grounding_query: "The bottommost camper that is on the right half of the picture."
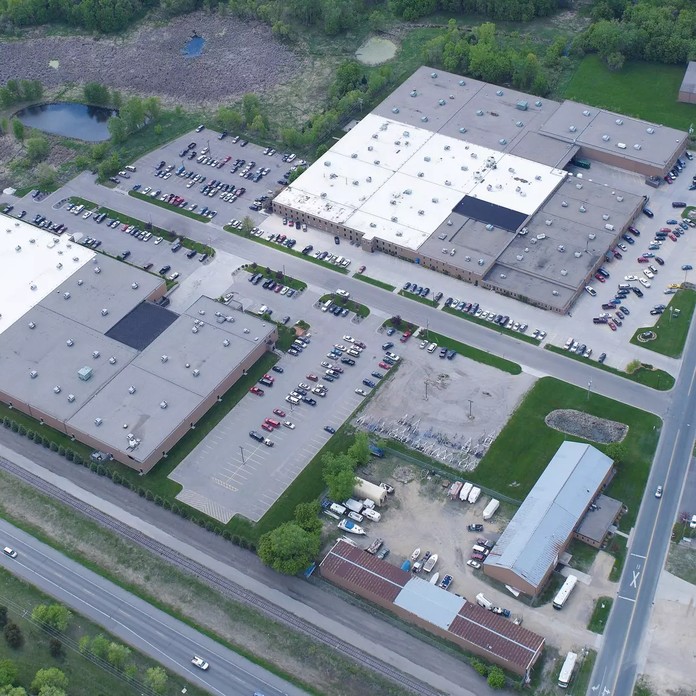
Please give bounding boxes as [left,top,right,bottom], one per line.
[559,650,577,686]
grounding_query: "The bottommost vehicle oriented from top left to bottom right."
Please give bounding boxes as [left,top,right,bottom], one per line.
[189,654,209,670]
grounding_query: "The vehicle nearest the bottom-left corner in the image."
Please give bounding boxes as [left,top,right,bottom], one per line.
[2,545,18,558]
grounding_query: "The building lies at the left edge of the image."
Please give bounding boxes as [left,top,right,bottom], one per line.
[0,213,278,476]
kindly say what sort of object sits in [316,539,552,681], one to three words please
shed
